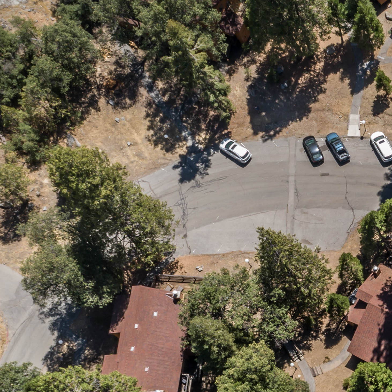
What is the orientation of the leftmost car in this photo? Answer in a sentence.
From this overhead view, the leftmost car appears to run diagonally.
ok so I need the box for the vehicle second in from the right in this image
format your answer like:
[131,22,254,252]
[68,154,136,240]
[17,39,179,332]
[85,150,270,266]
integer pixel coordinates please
[326,130,351,166]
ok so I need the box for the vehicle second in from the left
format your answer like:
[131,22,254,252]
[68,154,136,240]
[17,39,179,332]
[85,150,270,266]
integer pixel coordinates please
[302,133,326,167]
